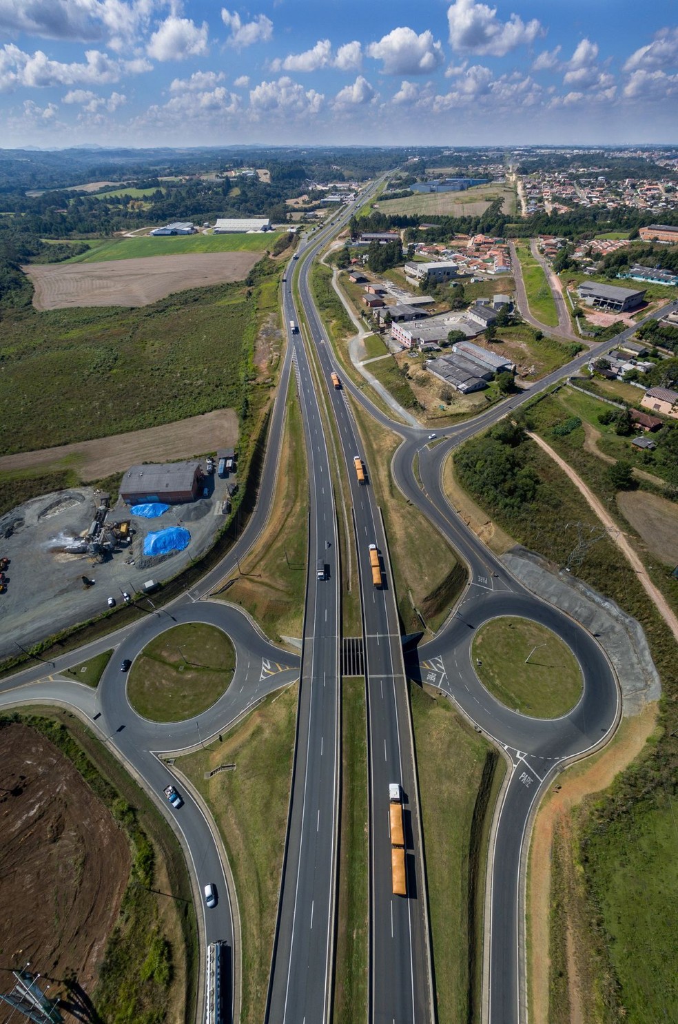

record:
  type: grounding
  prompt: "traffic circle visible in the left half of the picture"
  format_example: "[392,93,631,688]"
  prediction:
[0,335,302,1024]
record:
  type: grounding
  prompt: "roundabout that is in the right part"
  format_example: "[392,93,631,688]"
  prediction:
[327,297,678,1024]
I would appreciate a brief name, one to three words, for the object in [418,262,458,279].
building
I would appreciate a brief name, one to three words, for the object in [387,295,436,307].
shed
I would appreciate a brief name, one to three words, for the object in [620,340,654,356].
house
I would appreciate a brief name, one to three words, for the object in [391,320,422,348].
building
